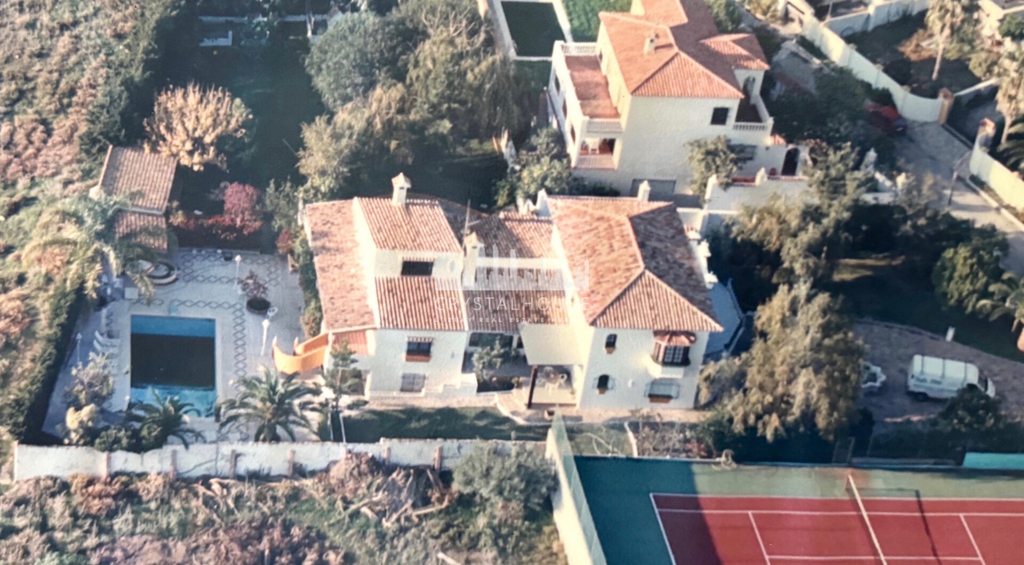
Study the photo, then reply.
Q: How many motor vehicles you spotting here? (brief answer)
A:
3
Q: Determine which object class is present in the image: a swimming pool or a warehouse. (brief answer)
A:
swimming pool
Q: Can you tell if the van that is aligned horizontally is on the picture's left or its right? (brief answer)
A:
right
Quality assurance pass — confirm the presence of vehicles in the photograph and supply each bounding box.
[903,351,994,397]
[858,357,892,390]
[866,99,918,131]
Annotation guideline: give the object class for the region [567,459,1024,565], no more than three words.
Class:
tennis court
